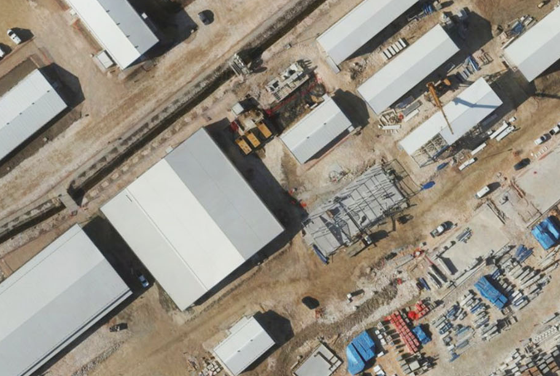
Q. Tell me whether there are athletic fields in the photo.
No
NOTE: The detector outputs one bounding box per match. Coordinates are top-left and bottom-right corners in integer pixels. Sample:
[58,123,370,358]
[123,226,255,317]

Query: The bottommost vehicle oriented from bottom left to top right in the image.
[434,223,451,236]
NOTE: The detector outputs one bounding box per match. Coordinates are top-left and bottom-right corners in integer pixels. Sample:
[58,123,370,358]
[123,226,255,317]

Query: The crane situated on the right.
[418,75,454,142]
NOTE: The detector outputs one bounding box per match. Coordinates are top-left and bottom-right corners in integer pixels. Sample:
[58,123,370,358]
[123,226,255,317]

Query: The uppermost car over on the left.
[196,9,210,23]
